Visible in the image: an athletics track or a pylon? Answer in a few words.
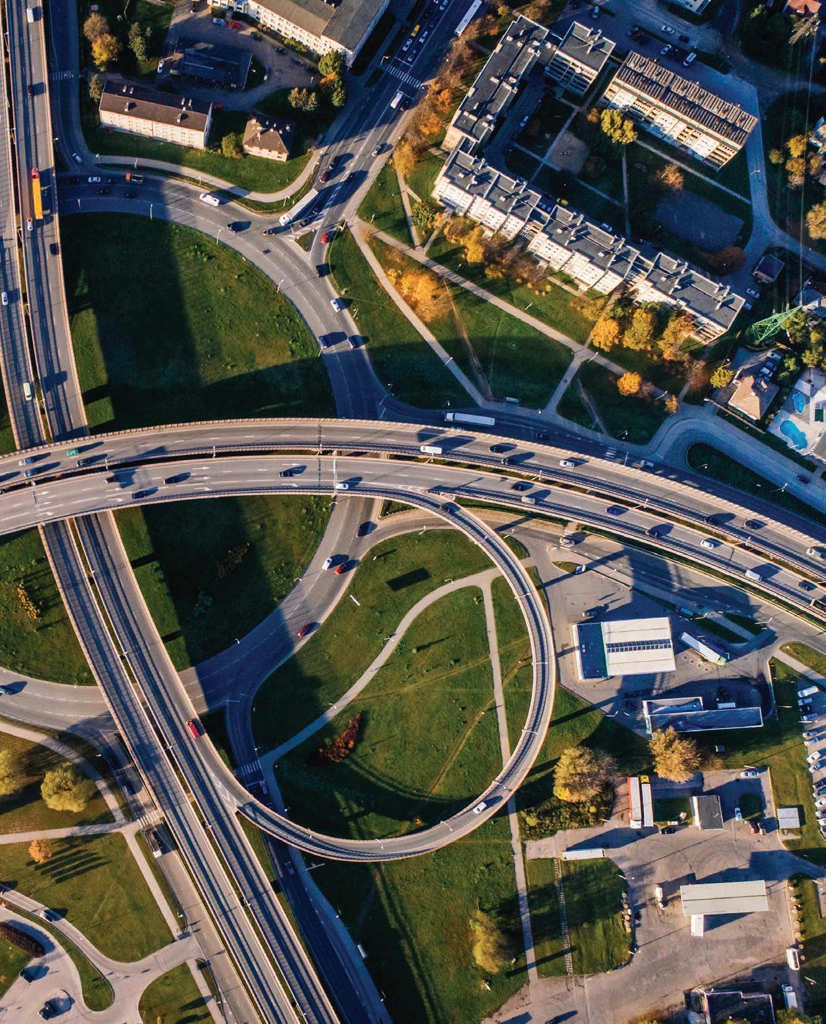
pylon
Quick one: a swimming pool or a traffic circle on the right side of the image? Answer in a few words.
swimming pool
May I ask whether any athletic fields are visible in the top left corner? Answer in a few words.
No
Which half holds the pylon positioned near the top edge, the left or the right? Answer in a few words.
right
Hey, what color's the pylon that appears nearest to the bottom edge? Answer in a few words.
green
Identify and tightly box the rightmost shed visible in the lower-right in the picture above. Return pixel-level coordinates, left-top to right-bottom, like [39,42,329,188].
[775,807,801,829]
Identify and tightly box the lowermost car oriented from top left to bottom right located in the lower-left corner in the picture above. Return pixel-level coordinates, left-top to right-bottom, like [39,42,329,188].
[19,969,34,985]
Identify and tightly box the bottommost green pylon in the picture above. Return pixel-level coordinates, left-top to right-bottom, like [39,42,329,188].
[754,305,806,340]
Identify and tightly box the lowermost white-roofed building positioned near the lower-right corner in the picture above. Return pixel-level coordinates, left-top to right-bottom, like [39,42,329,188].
[687,914,704,937]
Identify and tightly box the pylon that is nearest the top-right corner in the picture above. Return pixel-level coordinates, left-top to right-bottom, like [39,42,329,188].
[779,17,819,63]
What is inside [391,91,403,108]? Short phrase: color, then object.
white vehicle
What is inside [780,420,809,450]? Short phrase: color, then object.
blue swimming pool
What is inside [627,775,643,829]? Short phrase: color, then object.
white vehicle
